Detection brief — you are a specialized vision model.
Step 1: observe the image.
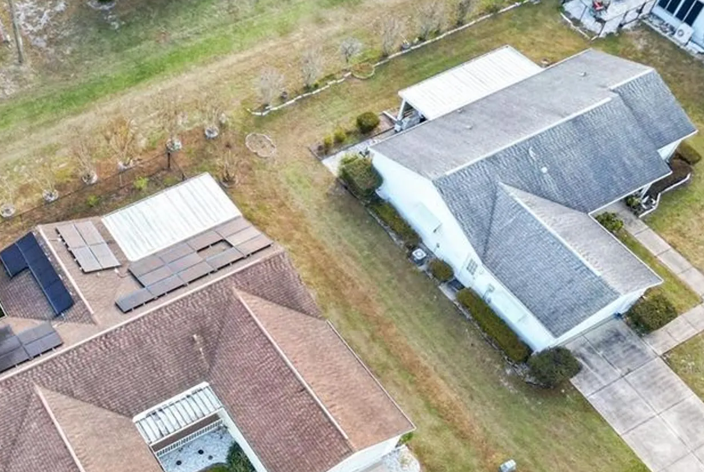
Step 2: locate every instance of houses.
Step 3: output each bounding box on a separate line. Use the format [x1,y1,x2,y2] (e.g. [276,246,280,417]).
[0,174,414,472]
[372,46,700,350]
[657,0,704,47]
